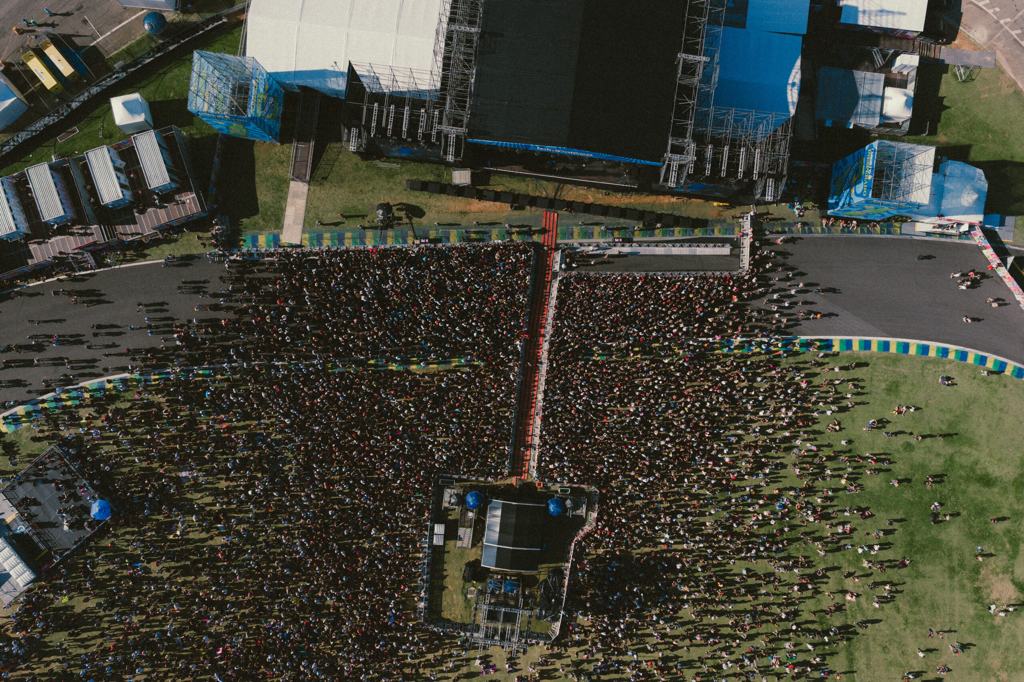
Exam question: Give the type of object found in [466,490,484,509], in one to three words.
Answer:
umbrella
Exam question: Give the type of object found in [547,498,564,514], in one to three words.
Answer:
umbrella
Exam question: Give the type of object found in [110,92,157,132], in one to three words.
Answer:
tent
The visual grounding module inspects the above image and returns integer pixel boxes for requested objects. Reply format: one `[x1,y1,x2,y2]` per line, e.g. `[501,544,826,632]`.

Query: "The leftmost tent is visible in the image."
[0,71,36,142]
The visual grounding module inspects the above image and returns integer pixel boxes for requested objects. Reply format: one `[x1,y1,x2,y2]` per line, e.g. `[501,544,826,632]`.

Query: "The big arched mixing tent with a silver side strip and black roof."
[481,493,546,573]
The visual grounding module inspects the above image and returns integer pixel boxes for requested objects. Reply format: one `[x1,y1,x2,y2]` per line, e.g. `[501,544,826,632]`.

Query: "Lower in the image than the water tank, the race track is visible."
[0,237,1024,414]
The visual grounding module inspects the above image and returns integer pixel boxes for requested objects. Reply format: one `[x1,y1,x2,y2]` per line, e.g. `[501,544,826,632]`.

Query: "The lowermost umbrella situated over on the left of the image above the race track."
[377,201,393,217]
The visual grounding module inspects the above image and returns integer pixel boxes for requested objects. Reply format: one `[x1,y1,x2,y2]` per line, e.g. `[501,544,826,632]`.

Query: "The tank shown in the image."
[139,10,164,35]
